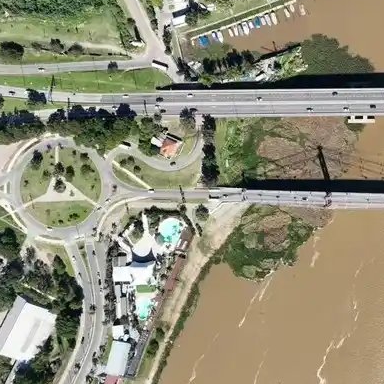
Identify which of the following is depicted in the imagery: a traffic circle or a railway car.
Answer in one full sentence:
The image shows a traffic circle.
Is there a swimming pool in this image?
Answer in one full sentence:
Yes, there is a swimming pool in the image.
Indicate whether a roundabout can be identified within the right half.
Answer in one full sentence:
No, no roundabout is visible within the right half.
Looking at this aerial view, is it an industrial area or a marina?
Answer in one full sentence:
The area seen from above is a marina.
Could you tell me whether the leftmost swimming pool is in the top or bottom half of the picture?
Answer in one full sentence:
The bottom half of the photo is where the leftmost swimming pool is.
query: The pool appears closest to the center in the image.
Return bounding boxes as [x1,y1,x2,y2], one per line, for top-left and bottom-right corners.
[157,217,186,246]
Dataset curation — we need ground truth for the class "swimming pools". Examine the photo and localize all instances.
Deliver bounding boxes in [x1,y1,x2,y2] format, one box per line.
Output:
[157,217,186,246]
[135,293,158,320]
